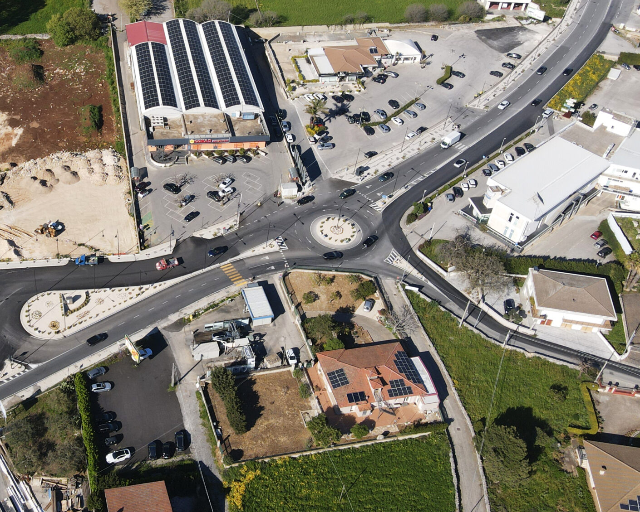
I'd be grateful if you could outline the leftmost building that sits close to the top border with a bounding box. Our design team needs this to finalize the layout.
[125,17,269,150]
